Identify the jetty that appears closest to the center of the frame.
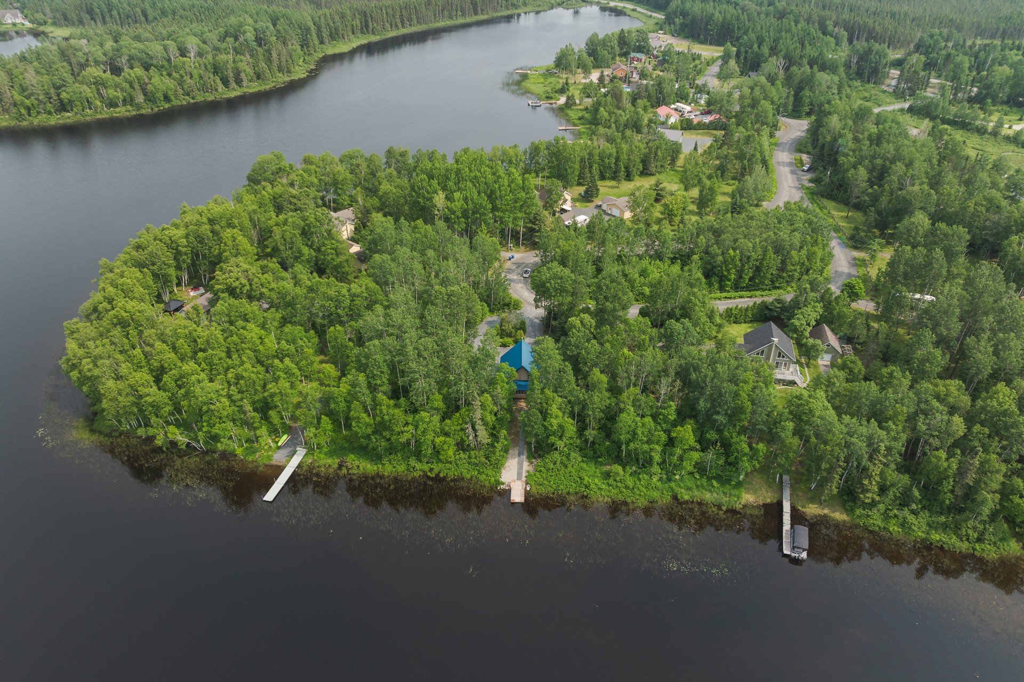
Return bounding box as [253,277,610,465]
[509,481,526,505]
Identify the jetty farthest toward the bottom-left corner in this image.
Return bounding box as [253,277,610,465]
[264,453,305,501]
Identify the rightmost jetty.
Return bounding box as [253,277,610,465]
[780,473,792,555]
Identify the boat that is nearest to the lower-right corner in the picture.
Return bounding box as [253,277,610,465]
[790,517,809,556]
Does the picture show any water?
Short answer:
Yes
